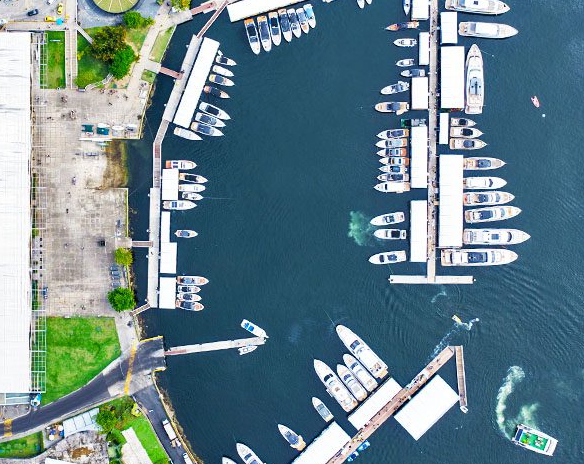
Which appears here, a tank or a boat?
boat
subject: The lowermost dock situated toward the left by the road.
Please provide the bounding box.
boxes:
[165,337,265,355]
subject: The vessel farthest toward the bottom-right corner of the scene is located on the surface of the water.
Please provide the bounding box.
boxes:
[507,423,559,455]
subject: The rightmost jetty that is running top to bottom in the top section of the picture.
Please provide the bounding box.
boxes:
[427,0,440,276]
